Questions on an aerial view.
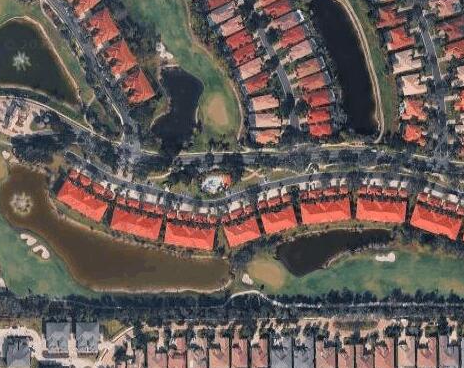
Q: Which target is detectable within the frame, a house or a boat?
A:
house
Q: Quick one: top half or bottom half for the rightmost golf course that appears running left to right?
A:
bottom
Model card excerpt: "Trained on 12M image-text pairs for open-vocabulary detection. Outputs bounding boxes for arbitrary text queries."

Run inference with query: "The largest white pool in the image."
[202,174,222,191]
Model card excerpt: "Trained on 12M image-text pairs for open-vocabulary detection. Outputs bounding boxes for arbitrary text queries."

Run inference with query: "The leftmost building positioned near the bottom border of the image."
[6,337,29,368]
